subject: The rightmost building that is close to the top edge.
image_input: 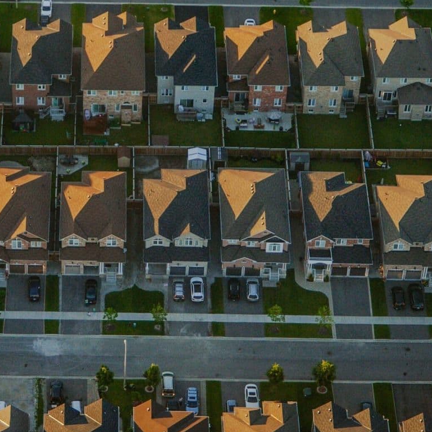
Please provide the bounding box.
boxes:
[367,15,432,124]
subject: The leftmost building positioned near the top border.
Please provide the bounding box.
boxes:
[9,13,75,124]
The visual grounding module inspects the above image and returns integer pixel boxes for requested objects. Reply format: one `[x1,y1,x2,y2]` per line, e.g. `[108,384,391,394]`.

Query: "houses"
[0,170,52,274]
[9,13,75,124]
[218,168,291,288]
[153,13,218,119]
[223,17,291,114]
[309,400,390,432]
[373,176,432,291]
[221,398,301,432]
[81,11,145,132]
[295,17,365,123]
[131,395,210,432]
[142,169,211,286]
[299,172,373,287]
[367,15,432,124]
[57,171,126,288]
[0,397,33,432]
[43,396,123,432]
